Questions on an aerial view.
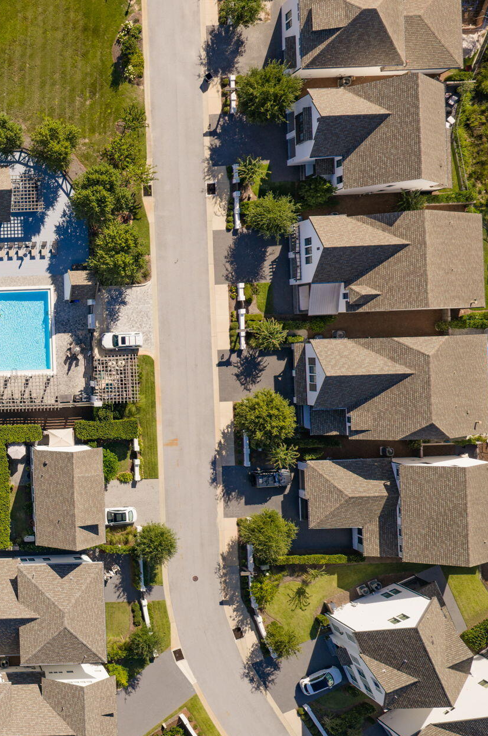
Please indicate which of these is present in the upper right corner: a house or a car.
house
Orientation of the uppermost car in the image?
from side to side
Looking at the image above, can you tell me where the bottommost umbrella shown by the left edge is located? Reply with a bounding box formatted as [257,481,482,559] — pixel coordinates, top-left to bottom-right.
[9,444,28,463]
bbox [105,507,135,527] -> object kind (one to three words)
car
